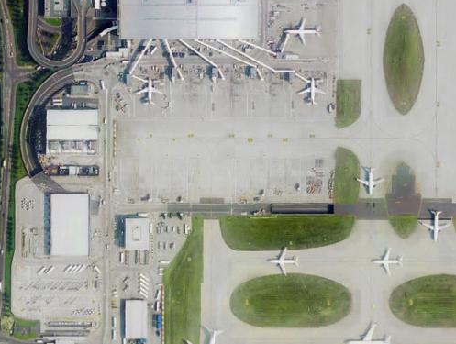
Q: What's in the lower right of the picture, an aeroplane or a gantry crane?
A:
aeroplane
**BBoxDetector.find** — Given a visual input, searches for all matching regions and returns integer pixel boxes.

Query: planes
[358,167,384,195]
[345,323,390,344]
[422,212,450,242]
[208,331,219,344]
[299,78,326,105]
[268,248,298,275]
[138,78,164,105]
[372,248,402,275]
[285,17,322,46]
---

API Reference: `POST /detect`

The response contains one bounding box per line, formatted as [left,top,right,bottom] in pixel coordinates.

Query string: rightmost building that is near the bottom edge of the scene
[125,301,147,340]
